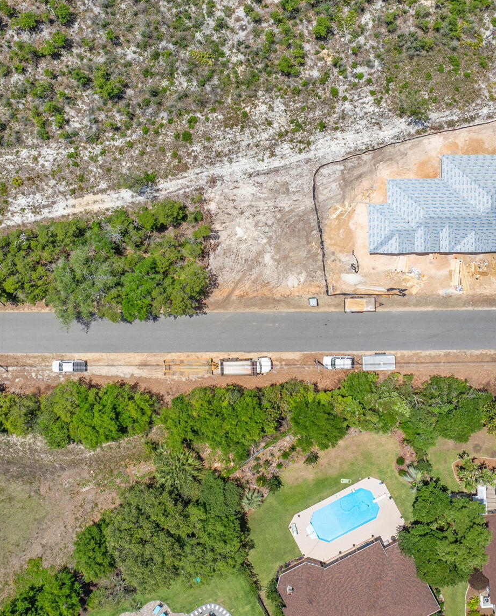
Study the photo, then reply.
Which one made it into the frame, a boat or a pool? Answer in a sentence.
There is a pool in the scene.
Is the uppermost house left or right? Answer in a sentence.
The uppermost house is on the right side of the image.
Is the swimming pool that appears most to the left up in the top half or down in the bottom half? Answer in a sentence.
The bottom half of the photo is where the swimming pool that appears most to the left is.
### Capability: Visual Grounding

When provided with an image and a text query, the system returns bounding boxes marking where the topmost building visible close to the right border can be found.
[369,155,496,262]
